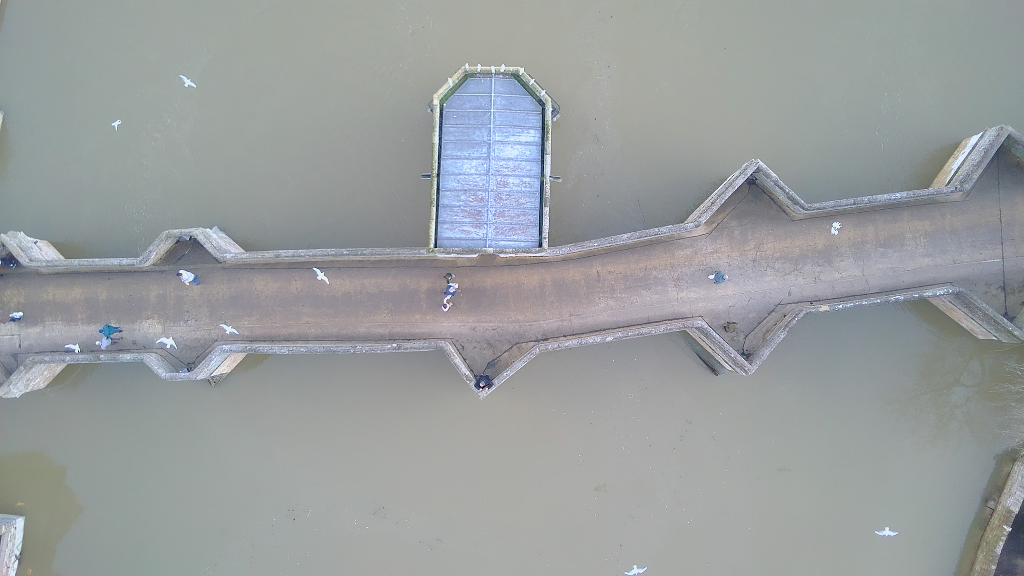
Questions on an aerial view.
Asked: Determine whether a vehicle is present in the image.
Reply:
No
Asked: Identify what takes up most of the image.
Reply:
water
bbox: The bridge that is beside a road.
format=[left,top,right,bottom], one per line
[0,125,1024,399]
